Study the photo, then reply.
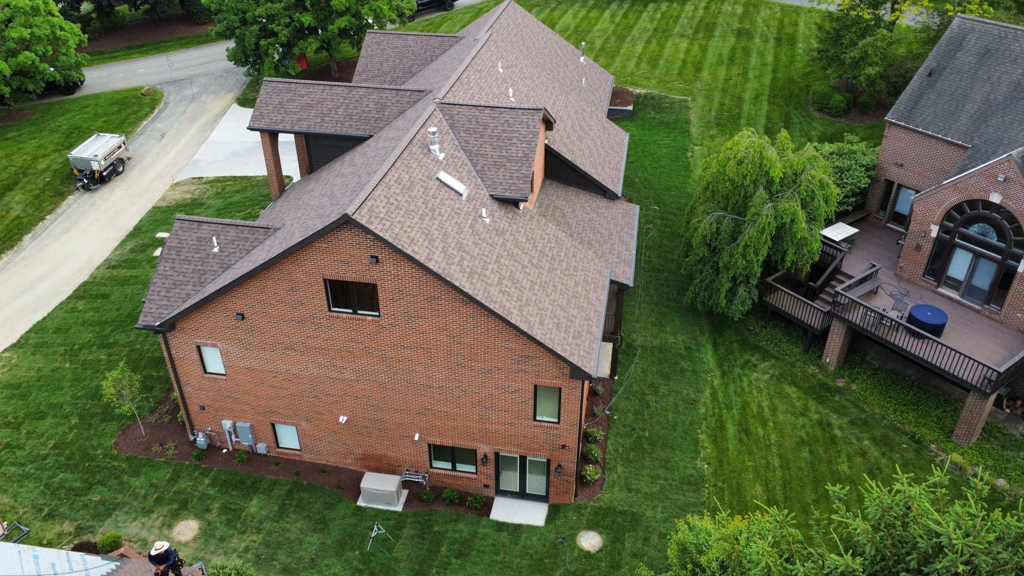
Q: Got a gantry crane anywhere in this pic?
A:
No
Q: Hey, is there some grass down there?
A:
Yes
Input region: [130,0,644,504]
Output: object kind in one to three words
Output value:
house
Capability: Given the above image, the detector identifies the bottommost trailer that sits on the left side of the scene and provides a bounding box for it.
[60,125,136,186]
